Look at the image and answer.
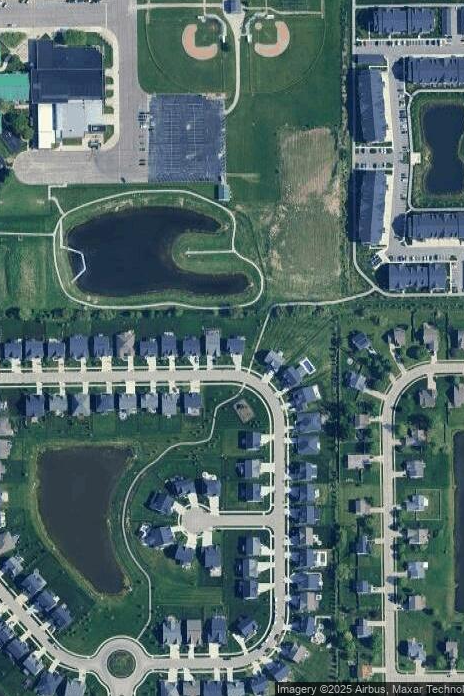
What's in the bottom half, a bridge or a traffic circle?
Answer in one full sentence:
What appears in the bottom half is a traffic circle.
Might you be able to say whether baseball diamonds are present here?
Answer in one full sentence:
Yes, there's a baseball diamond down there.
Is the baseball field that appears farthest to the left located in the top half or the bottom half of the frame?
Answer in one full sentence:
The baseball field that appears farthest to the left is in the top half of the image.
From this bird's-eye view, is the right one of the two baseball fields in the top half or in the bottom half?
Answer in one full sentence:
The right one of the two baseball fields sits in the top half of the picture.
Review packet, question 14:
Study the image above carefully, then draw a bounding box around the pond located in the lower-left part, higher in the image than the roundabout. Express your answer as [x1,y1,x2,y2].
[39,446,132,595]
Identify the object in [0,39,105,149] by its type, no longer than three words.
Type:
building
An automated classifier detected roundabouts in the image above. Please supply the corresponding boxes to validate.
[95,638,149,692]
